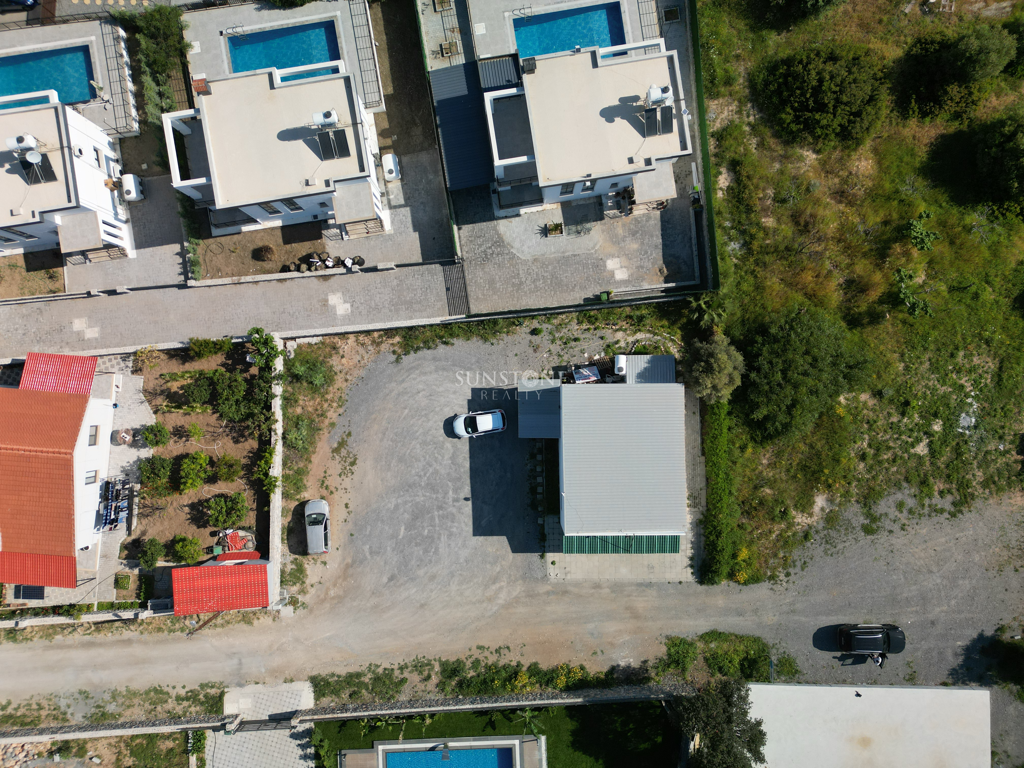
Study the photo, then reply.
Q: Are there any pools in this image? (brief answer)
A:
Yes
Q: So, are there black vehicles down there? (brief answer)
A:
Yes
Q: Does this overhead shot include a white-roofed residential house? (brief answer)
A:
Yes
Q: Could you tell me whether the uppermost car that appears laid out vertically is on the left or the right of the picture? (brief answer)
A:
left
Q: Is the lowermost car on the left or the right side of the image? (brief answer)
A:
right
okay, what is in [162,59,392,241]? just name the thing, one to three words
house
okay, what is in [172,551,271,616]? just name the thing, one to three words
shed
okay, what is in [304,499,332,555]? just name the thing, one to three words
car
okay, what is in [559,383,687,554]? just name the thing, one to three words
building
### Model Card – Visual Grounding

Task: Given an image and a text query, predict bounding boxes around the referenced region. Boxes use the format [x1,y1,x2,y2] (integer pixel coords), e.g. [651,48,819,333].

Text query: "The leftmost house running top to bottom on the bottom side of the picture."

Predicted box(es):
[0,352,117,588]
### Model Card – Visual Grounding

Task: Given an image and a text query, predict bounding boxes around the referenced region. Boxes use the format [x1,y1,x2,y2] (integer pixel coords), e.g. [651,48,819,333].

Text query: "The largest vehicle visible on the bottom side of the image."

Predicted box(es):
[835,624,904,670]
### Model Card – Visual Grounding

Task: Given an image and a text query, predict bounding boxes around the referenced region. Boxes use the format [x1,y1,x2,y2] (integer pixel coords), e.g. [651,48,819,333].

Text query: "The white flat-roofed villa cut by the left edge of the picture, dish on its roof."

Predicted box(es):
[0,89,141,268]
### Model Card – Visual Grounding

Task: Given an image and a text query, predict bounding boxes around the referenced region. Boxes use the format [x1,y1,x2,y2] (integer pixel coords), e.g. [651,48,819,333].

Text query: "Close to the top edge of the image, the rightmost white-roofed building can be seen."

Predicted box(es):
[482,37,692,222]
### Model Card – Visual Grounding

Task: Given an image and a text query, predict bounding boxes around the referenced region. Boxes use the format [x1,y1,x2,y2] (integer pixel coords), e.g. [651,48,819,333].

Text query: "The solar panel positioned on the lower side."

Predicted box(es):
[21,584,48,599]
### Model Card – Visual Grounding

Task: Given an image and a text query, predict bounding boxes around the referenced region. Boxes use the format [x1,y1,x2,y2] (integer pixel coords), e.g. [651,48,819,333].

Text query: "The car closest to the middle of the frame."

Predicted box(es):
[454,410,507,438]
